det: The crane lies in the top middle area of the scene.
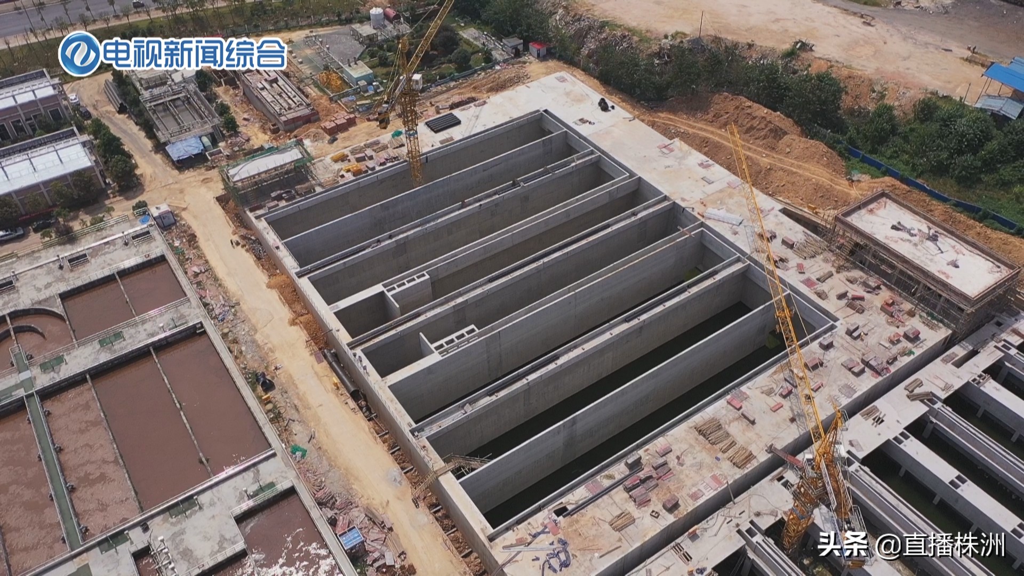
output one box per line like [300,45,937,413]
[373,0,453,191]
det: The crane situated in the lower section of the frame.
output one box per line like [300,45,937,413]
[727,121,879,576]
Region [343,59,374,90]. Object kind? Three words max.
house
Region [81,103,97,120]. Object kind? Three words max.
car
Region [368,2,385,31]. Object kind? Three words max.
silo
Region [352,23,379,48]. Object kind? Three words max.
shed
